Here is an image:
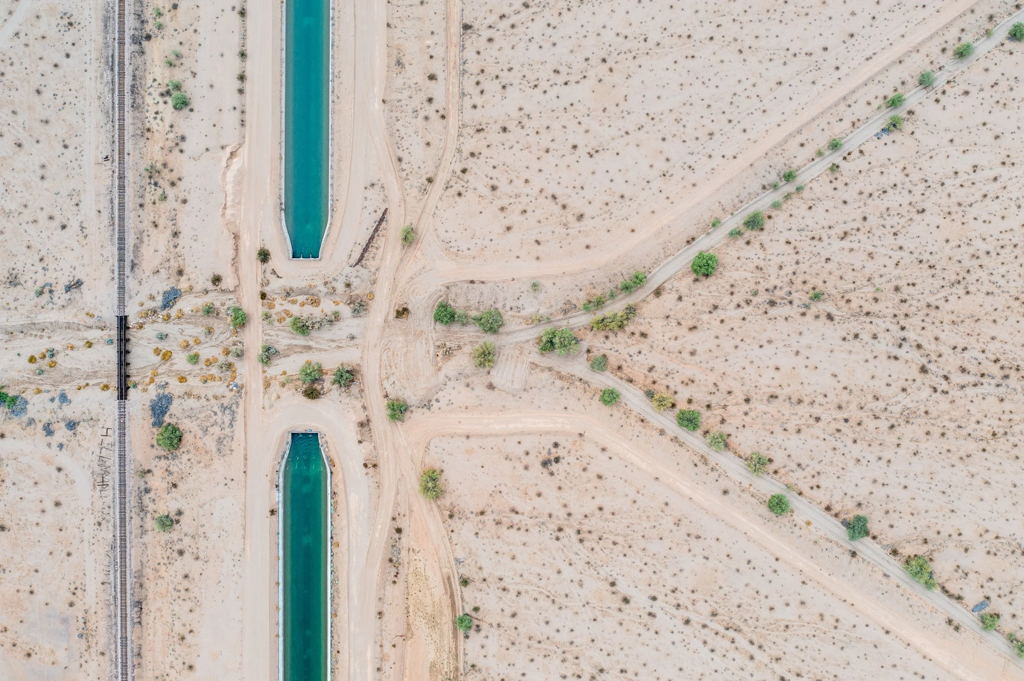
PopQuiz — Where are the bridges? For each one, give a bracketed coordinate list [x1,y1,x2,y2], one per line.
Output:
[113,315,130,401]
